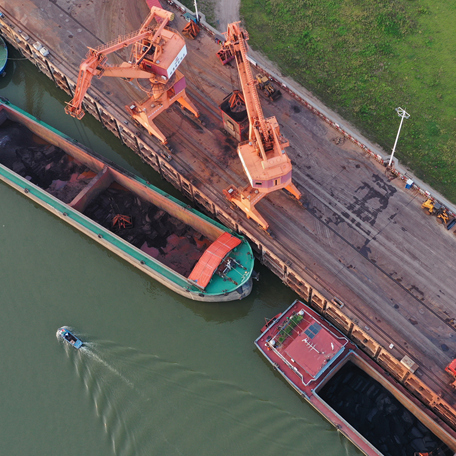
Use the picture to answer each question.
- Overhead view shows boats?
Yes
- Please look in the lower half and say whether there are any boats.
Yes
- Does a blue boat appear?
Yes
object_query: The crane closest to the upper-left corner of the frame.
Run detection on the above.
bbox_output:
[60,4,200,209]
